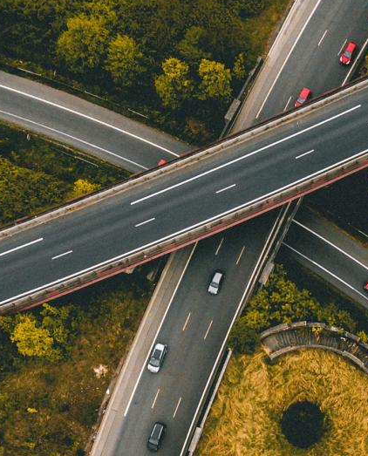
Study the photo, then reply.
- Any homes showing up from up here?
No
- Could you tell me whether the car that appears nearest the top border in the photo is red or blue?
red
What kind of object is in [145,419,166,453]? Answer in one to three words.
car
